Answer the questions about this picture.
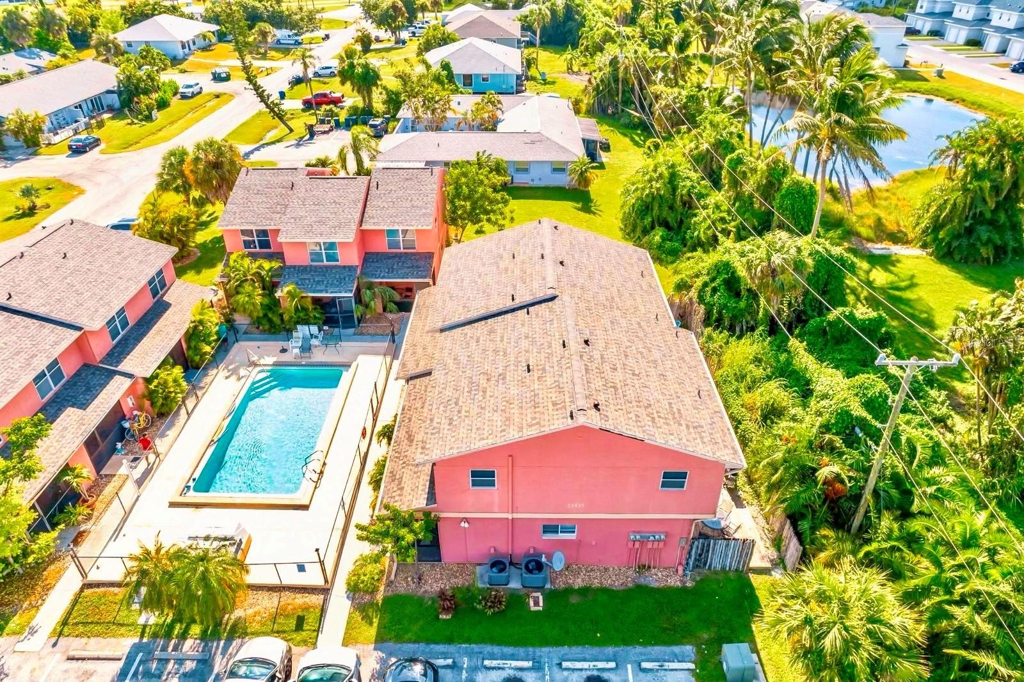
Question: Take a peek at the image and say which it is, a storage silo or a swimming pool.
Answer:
swimming pool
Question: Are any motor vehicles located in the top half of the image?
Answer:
Yes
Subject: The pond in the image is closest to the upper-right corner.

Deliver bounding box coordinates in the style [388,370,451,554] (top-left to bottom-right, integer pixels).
[747,92,986,194]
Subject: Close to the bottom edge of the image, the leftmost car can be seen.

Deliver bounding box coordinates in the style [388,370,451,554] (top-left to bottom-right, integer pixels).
[206,639,291,682]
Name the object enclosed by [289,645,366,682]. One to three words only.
car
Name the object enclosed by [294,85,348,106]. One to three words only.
truck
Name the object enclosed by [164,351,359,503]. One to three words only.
swimming pool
